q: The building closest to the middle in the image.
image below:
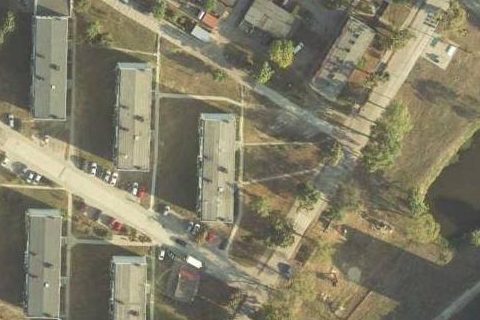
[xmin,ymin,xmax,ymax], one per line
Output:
[200,113,238,223]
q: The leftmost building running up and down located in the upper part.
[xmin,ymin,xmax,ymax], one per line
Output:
[32,15,72,121]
